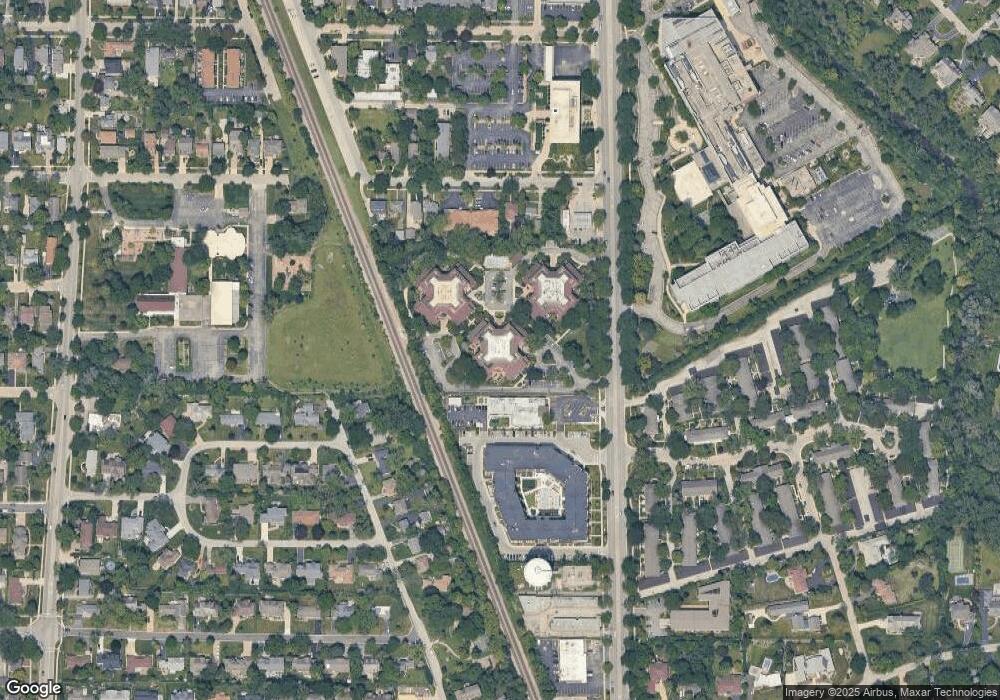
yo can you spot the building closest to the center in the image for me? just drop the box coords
[469,314,531,379]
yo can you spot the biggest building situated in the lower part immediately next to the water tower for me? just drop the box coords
[484,442,590,546]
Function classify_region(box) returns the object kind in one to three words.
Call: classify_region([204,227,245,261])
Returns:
building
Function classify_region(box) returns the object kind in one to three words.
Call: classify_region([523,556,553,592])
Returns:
water tower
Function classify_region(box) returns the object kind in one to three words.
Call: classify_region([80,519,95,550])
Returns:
house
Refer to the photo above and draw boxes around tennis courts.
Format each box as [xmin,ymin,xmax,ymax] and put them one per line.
[947,538,965,573]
